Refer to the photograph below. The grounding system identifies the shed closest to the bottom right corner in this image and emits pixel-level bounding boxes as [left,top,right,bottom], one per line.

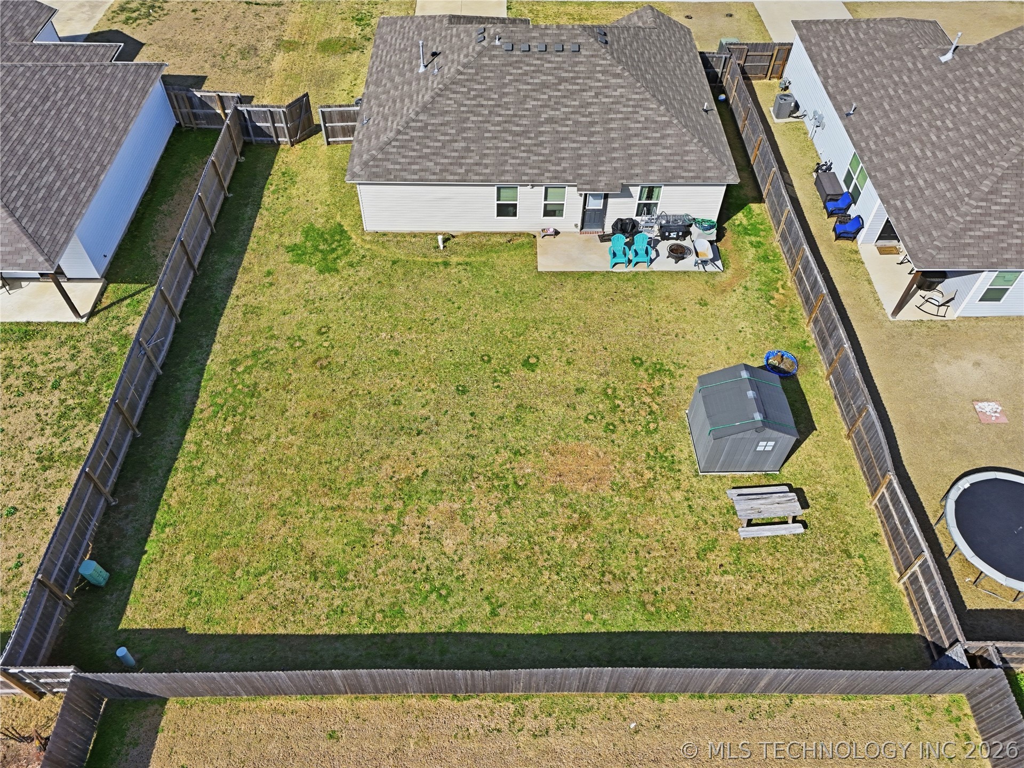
[686,365,801,474]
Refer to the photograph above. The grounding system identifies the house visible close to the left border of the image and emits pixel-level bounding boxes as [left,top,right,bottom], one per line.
[0,0,176,320]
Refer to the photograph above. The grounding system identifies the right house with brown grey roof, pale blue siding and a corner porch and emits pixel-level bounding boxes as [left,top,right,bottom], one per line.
[787,13,1024,318]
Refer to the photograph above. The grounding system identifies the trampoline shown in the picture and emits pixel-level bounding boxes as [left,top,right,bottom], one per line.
[935,472,1024,604]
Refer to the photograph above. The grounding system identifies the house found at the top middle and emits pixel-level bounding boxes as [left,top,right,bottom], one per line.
[343,2,740,235]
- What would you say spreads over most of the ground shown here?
grass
